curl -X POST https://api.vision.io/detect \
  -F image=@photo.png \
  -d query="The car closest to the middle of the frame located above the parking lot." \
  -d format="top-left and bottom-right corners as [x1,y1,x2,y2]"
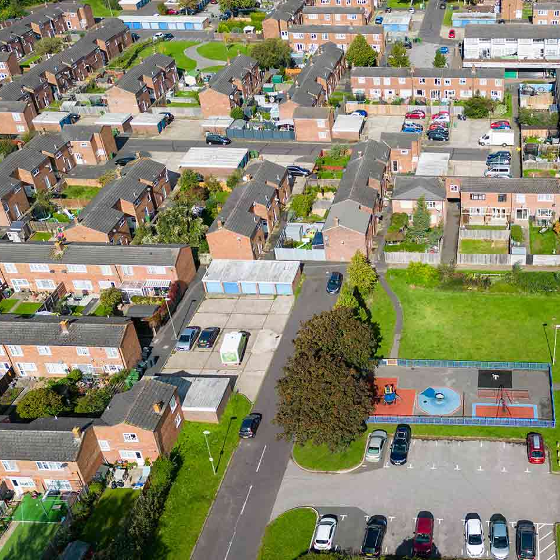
[325,270,344,295]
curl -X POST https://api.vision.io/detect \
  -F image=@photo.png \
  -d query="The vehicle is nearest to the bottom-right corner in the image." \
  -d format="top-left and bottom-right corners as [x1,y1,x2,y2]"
[515,519,538,560]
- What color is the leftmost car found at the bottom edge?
white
